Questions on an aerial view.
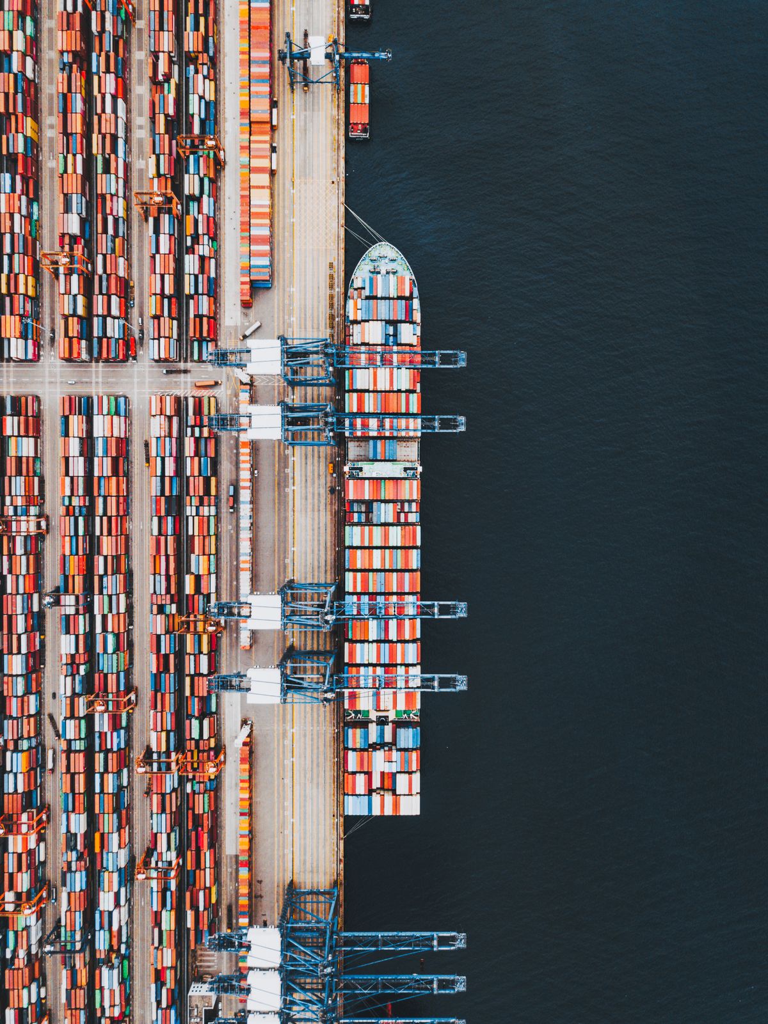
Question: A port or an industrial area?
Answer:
port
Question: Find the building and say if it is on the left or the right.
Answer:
left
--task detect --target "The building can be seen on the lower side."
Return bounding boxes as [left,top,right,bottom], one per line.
[188,983,217,1024]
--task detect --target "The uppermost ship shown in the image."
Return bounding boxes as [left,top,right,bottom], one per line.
[351,0,373,26]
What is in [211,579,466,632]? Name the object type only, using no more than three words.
container crane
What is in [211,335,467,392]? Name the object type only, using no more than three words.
container crane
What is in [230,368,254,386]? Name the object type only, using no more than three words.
work vehicle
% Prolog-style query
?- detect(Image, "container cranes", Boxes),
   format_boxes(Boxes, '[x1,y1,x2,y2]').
[0,514,48,534]
[279,24,389,89]
[41,250,90,277]
[213,969,464,1024]
[135,847,185,883]
[87,688,136,715]
[211,335,467,392]
[211,579,466,632]
[42,587,88,609]
[212,924,464,1023]
[177,134,224,166]
[0,804,50,839]
[212,883,465,976]
[83,0,133,22]
[211,400,467,451]
[41,918,90,955]
[211,646,466,705]
[179,746,224,776]
[135,747,184,776]
[0,998,50,1024]
[134,189,182,219]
